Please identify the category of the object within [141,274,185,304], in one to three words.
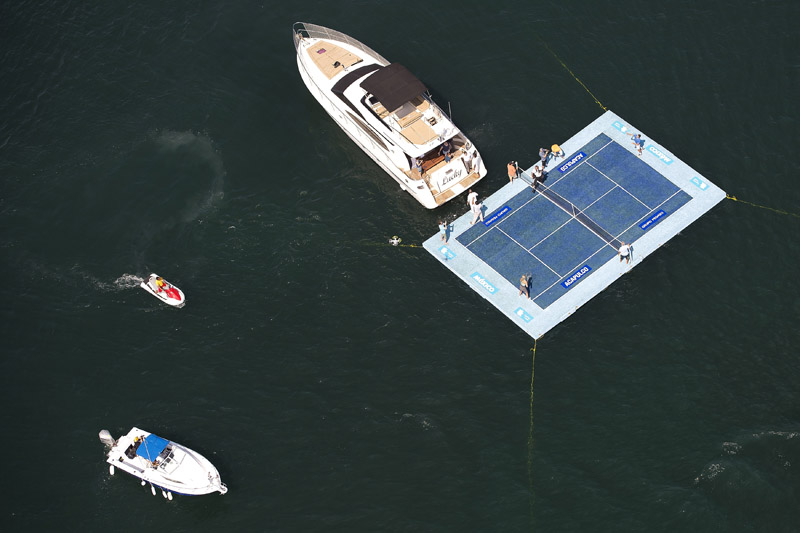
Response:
boat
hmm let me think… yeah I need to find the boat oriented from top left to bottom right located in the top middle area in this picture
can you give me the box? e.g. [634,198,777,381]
[290,23,488,210]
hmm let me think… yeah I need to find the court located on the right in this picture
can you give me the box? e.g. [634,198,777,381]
[423,110,727,339]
